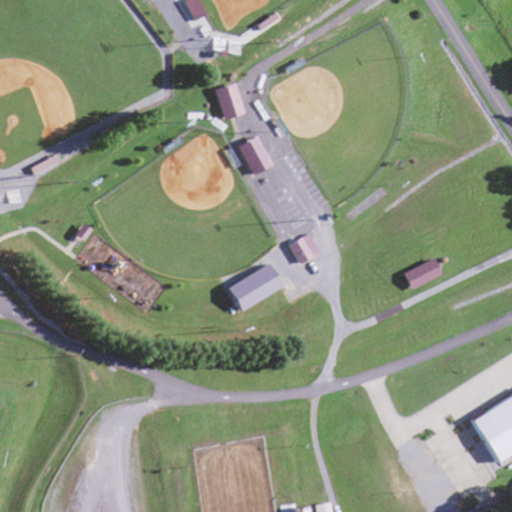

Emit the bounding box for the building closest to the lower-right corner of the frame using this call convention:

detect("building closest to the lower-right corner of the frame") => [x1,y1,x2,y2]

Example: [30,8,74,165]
[470,393,512,466]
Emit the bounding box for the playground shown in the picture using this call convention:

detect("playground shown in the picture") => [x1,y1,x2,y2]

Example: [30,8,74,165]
[76,234,163,314]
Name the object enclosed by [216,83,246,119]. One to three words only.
building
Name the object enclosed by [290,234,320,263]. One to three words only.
building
